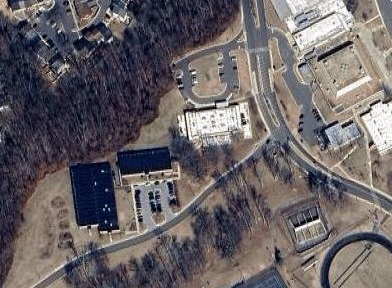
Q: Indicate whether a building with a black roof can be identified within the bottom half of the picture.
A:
Yes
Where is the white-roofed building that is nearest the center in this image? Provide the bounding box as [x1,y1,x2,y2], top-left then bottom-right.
[178,103,252,148]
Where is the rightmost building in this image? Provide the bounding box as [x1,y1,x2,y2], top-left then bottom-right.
[360,102,392,158]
